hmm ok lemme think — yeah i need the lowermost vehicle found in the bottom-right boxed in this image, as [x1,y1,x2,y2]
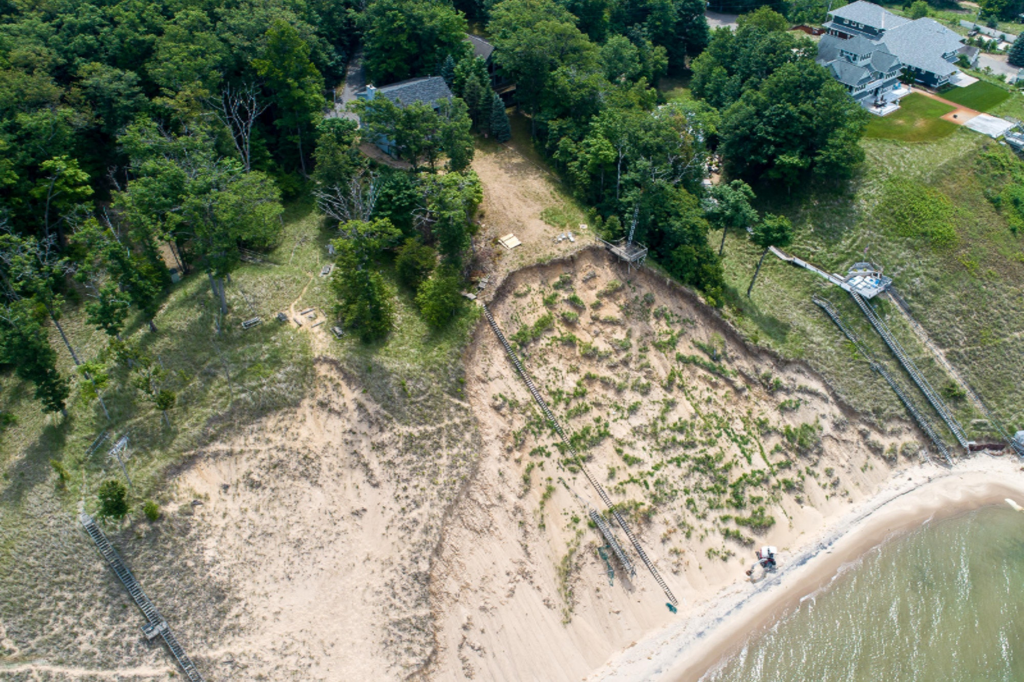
[745,545,781,580]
